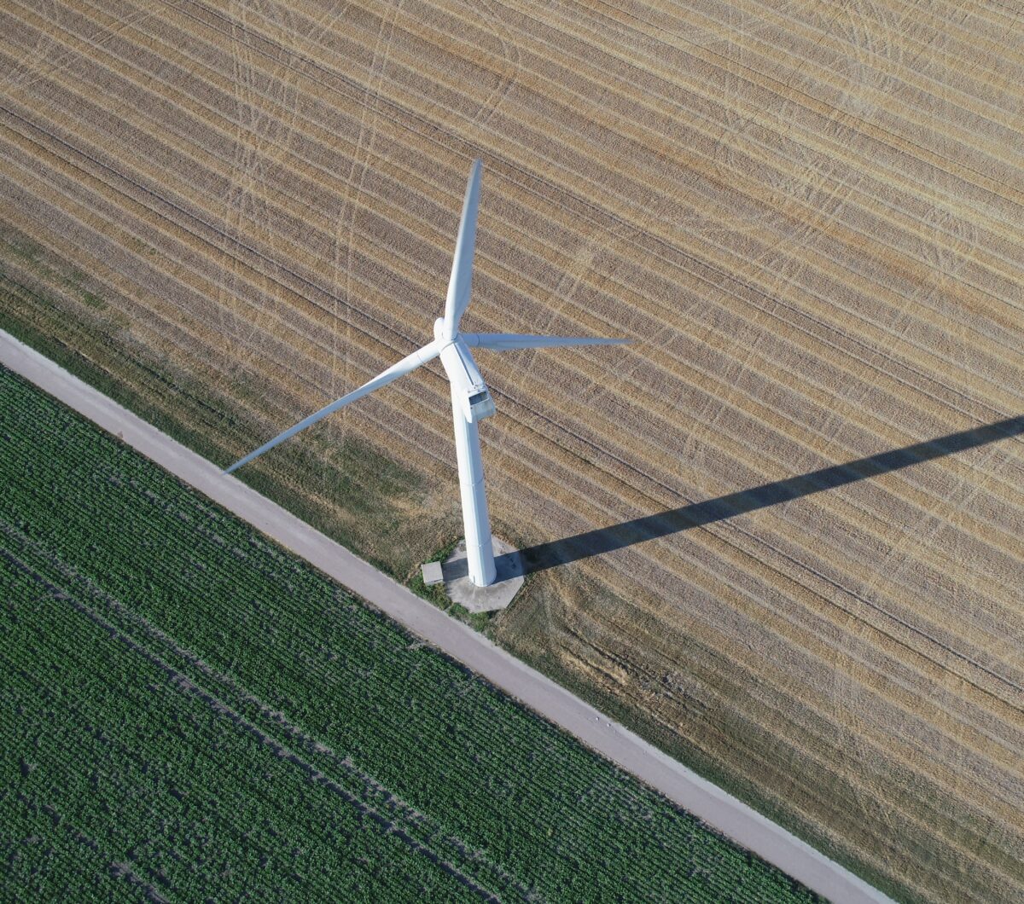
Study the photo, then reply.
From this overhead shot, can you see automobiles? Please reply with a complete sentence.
No, I can see no automobile in this picture.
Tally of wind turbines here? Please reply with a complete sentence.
Altogether the scene contains 1 wind turbine.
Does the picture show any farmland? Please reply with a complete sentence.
Yes, the picture does contain farmland.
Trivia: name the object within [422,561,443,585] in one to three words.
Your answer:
building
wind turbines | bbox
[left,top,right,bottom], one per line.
[226,160,632,588]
